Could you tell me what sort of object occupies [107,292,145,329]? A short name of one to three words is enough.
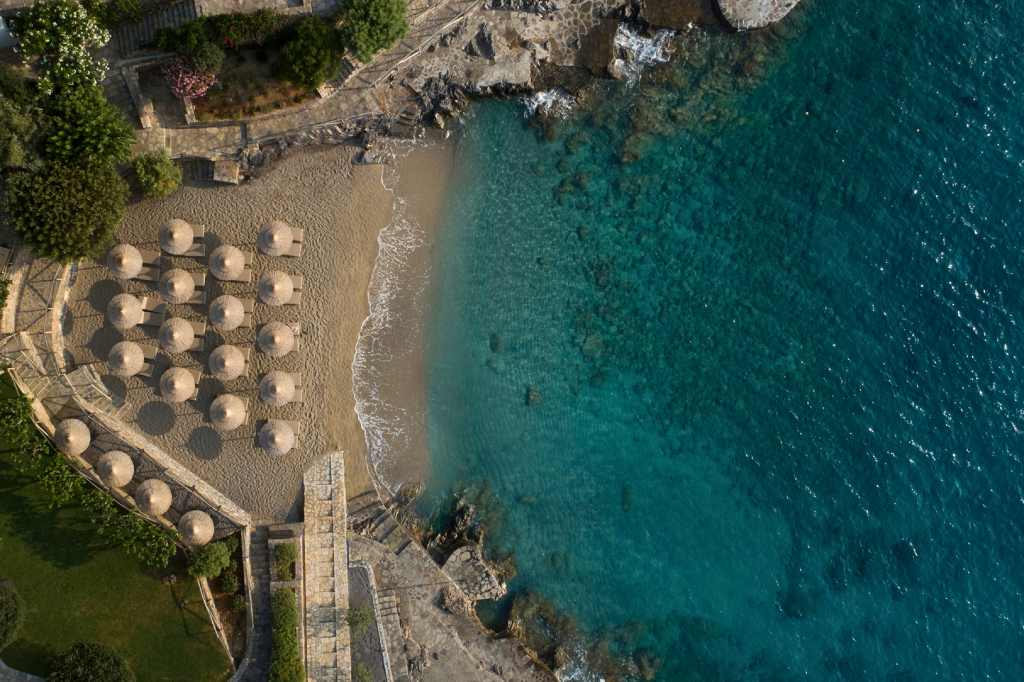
umbrella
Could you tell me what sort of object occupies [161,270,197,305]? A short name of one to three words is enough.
umbrella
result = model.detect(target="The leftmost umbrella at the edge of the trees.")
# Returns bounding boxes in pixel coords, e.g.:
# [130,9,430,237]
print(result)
[56,419,92,456]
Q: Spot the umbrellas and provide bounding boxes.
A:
[137,478,175,516]
[258,370,294,407]
[260,320,297,358]
[161,218,198,255]
[158,316,194,353]
[161,270,197,305]
[97,448,134,486]
[210,343,245,378]
[56,419,92,456]
[177,510,214,547]
[108,341,145,379]
[260,418,296,455]
[260,271,297,308]
[109,242,147,279]
[210,243,247,280]
[259,219,295,256]
[160,367,196,403]
[107,292,145,329]
[211,392,246,428]
[210,295,245,331]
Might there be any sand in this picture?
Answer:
Yes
